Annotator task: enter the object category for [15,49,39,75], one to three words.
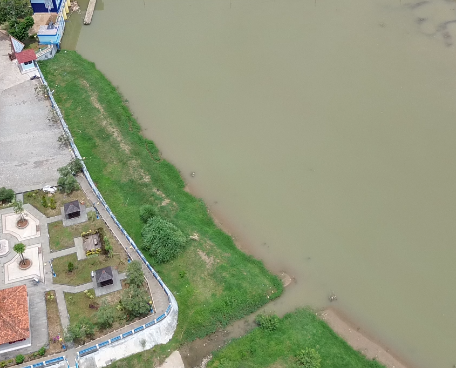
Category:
building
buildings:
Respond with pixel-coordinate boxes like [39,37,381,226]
[93,264,116,292]
[62,198,82,222]
[15,49,39,75]
[0,283,34,359]
[33,16,67,56]
[29,0,64,14]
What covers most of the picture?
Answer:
water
